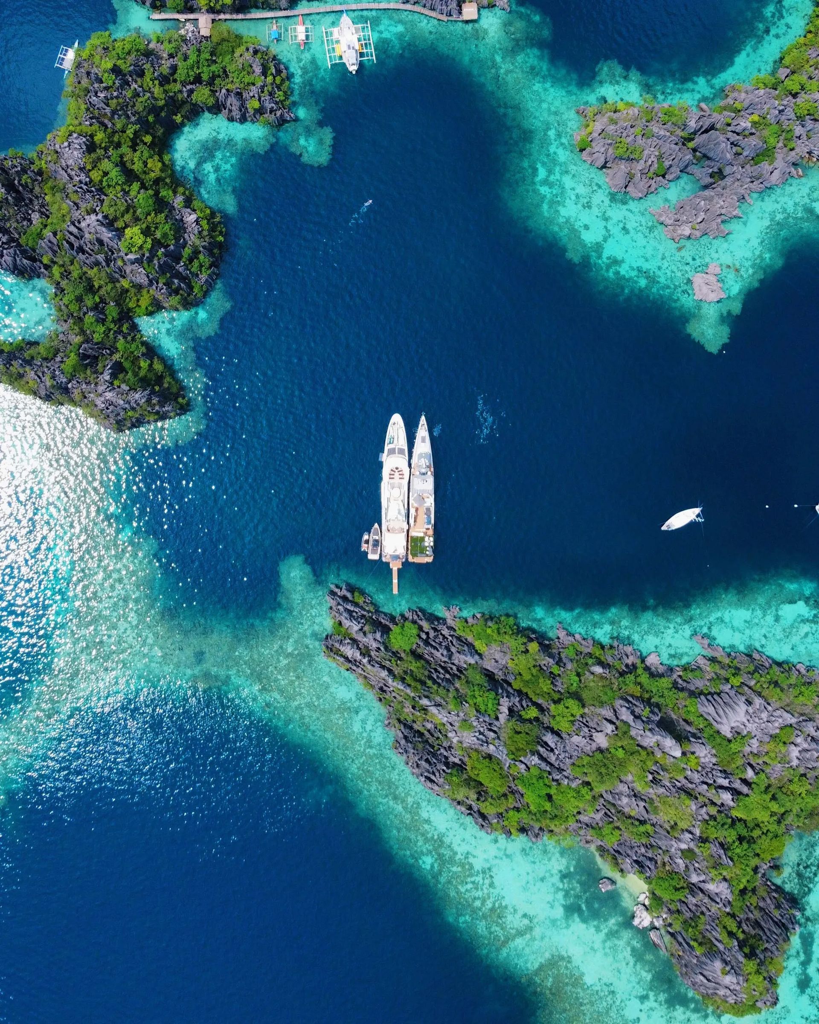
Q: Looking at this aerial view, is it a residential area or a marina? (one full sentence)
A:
This image shows a marina.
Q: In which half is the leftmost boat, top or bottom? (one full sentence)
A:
You can find the leftmost boat in the top half.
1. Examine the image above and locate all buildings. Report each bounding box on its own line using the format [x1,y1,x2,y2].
[199,15,212,36]
[462,3,478,25]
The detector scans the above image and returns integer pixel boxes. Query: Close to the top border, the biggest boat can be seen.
[322,2,376,74]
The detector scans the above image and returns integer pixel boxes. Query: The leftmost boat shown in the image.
[54,37,78,77]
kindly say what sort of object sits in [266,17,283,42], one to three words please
boat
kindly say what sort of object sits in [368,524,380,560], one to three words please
boat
